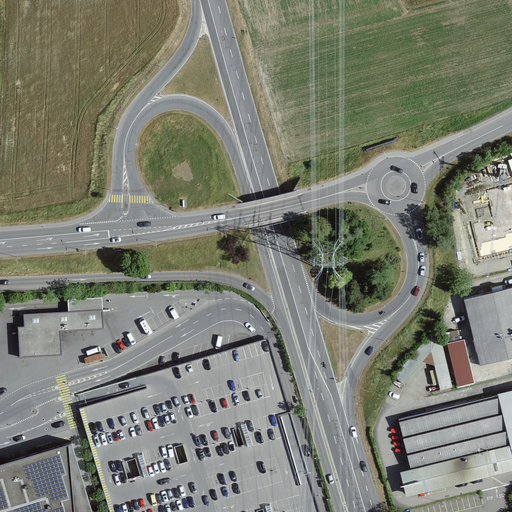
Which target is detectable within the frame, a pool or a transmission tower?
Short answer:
transmission tower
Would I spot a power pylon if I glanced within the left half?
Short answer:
No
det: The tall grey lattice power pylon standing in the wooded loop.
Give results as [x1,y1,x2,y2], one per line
[304,241,352,280]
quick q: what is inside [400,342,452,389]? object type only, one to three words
shed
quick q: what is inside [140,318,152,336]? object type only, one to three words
vehicle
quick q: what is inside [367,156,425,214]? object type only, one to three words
roundabout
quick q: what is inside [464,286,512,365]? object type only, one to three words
building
